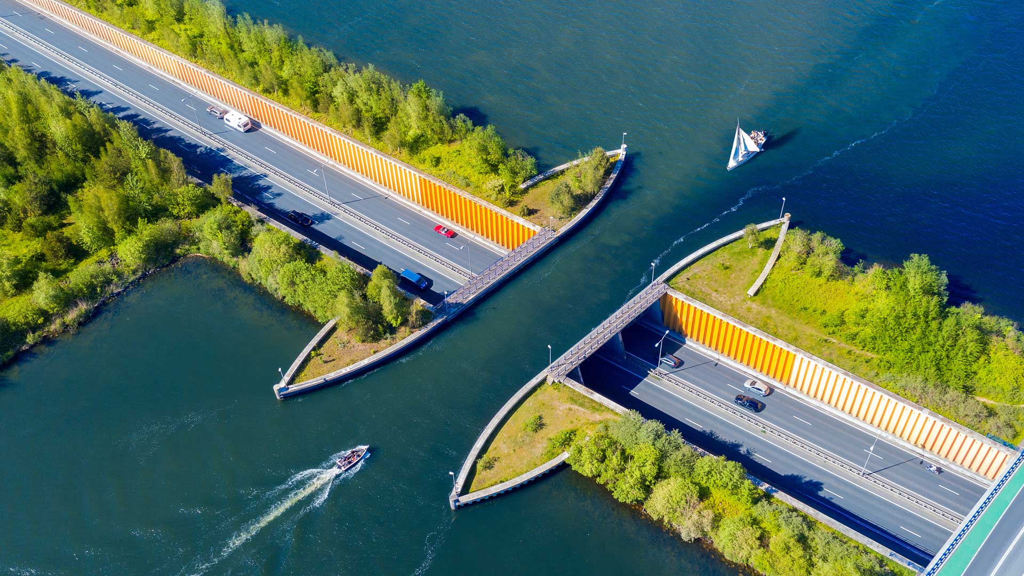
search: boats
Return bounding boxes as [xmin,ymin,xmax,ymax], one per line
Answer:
[728,117,769,172]
[334,445,369,474]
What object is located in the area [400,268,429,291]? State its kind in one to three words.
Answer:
vehicle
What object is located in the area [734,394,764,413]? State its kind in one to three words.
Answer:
car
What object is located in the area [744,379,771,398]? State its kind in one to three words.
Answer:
car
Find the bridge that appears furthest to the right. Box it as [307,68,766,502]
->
[920,441,1024,576]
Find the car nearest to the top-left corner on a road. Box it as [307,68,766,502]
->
[208,107,227,120]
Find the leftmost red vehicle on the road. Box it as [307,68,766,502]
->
[434,225,455,239]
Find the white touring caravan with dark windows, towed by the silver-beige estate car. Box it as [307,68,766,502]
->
[227,110,253,131]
